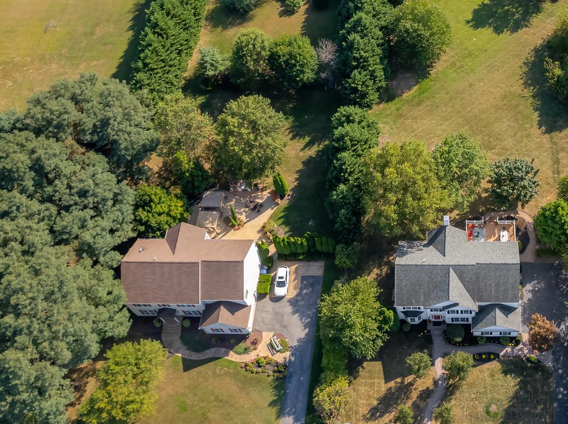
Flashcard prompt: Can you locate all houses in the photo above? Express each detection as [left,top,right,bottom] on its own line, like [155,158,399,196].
[118,219,263,333]
[394,213,521,336]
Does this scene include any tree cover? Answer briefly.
Yes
